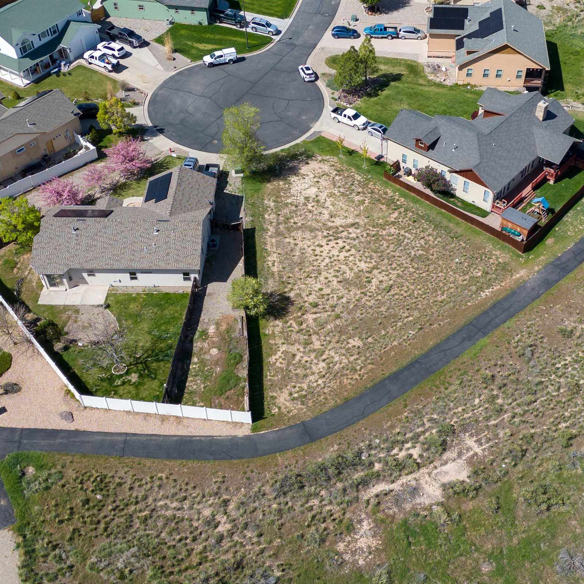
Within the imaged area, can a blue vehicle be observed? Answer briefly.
Yes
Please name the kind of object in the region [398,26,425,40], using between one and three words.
car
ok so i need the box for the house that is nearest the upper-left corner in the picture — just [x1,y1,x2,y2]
[0,0,100,88]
